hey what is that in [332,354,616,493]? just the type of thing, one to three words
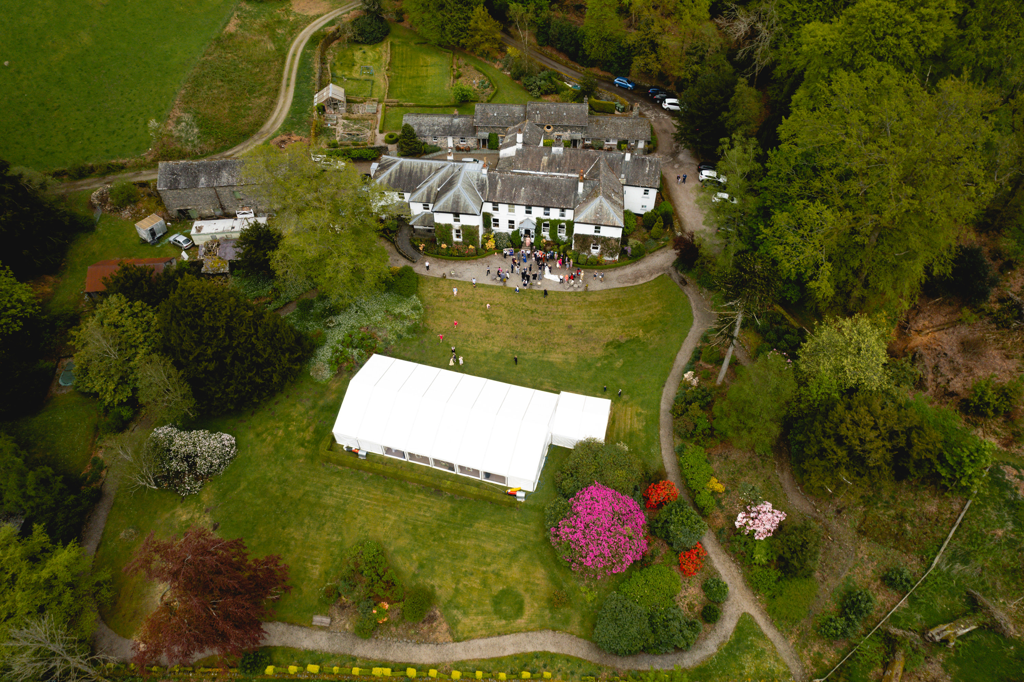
tent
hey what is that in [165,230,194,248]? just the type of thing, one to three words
car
